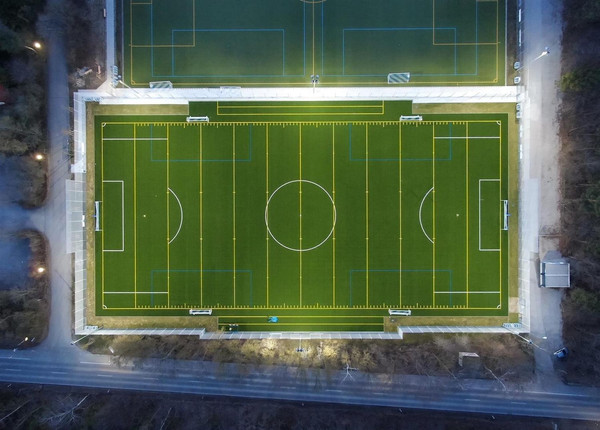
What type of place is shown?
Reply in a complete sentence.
What you see here is a sports ground.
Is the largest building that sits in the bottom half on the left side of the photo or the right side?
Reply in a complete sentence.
The largest building that sits in the bottom half is on the right side of the image.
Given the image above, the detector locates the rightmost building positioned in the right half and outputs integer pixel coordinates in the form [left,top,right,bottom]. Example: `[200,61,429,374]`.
[534,262,570,287]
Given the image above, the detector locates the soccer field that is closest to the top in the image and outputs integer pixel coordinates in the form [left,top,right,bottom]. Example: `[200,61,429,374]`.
[122,0,506,87]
